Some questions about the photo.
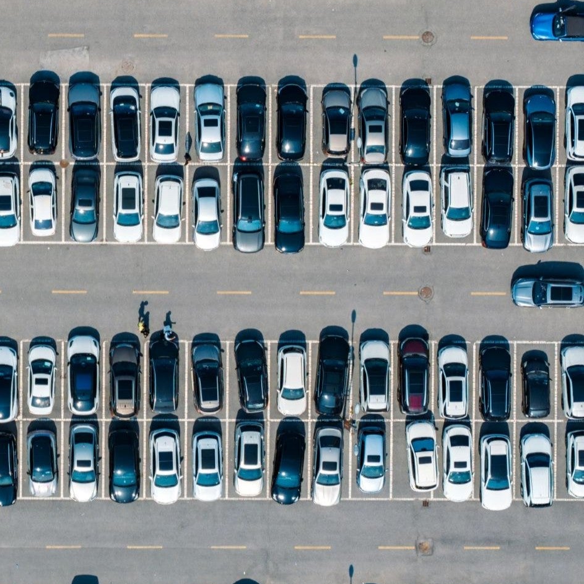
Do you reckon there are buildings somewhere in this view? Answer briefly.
No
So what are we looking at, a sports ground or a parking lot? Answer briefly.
parking lot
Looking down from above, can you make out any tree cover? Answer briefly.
No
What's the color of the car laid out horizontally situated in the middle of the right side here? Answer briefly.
blue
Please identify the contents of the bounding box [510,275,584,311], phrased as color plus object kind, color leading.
blue car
